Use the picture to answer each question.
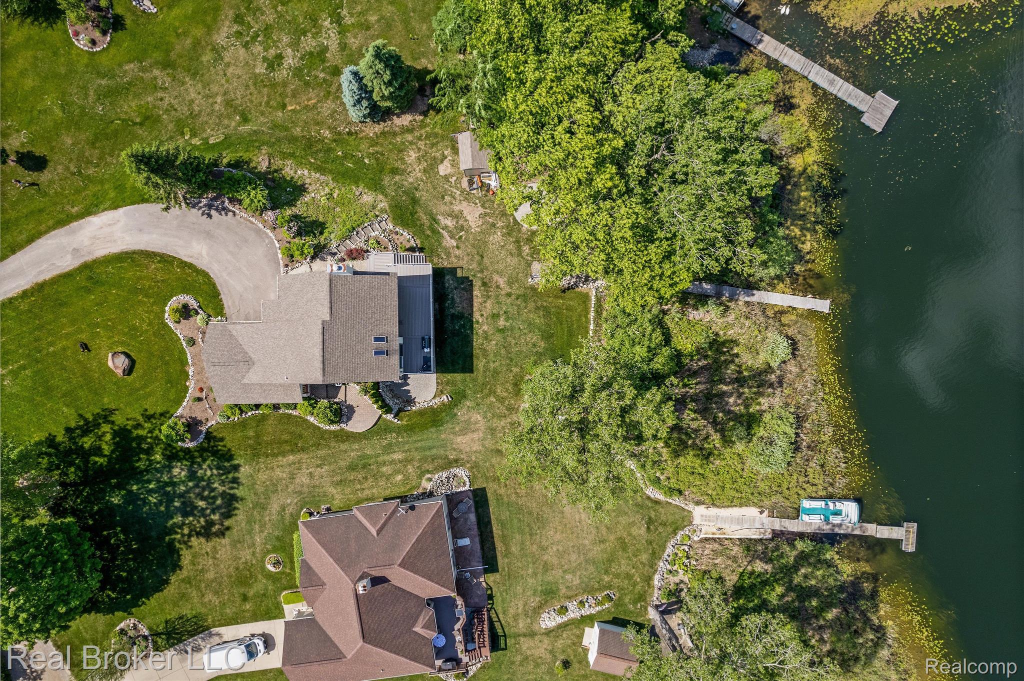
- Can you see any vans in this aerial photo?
Yes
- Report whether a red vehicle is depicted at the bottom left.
No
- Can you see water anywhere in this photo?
Yes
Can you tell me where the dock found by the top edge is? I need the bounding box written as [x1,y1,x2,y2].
[722,10,901,134]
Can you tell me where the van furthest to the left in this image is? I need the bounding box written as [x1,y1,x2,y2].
[202,634,267,678]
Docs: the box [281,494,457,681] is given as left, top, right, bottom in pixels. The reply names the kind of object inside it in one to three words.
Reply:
house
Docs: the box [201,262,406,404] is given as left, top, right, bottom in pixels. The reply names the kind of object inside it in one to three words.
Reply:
house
